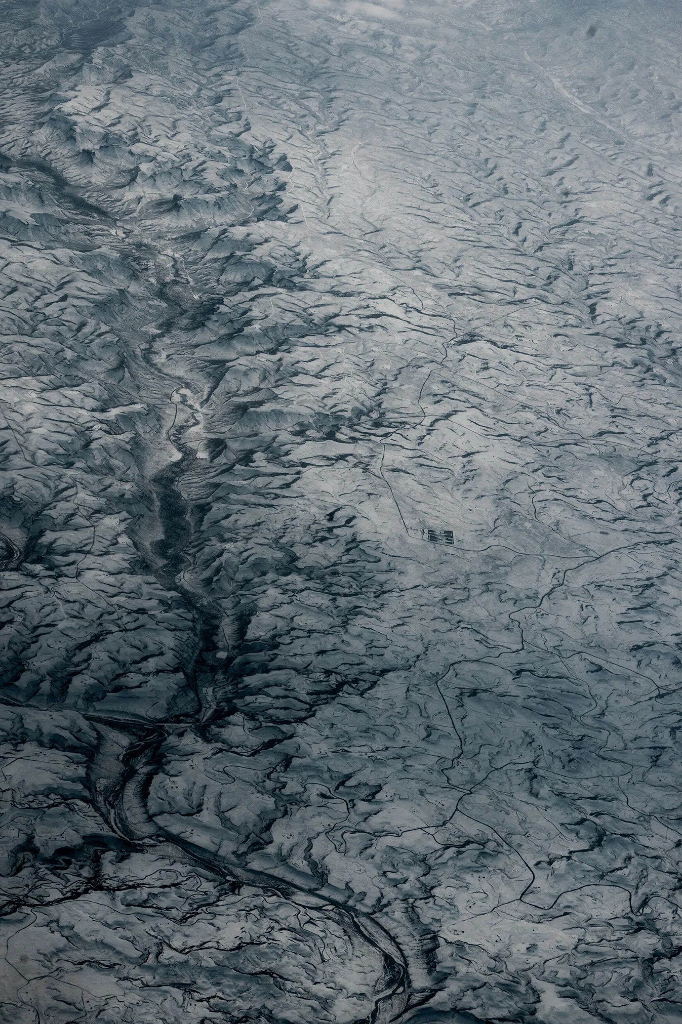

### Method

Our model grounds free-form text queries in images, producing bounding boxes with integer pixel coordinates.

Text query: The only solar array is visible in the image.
[428,529,454,546]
